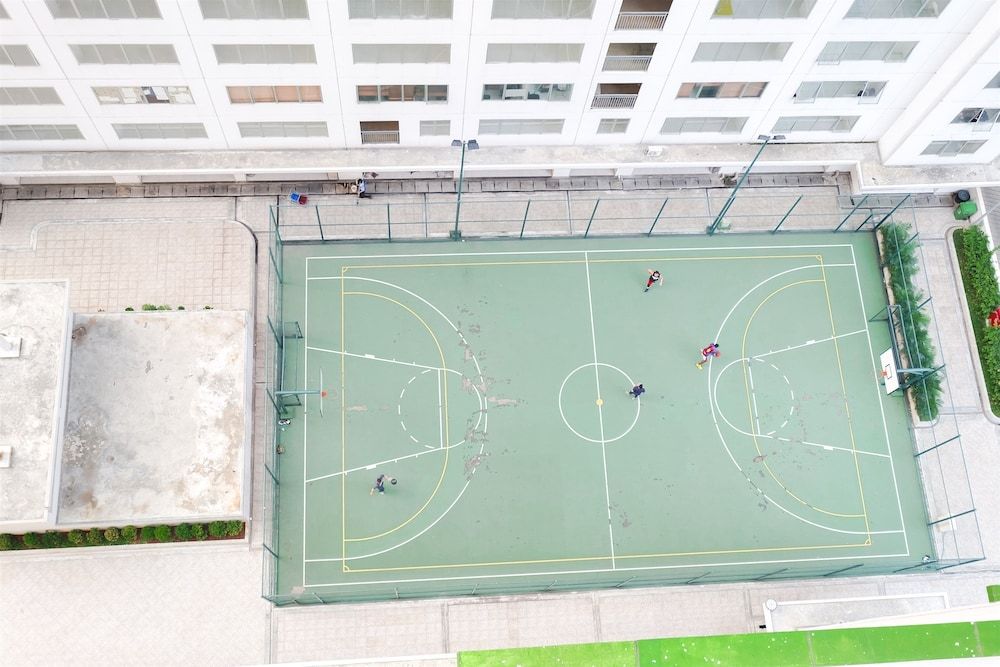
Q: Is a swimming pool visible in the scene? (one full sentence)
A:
No, I find no swimming pool anywhere in the image.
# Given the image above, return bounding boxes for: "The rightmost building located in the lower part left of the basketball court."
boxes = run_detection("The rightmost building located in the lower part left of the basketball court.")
[58,309,256,527]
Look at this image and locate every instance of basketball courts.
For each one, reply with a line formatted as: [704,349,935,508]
[277,233,938,606]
